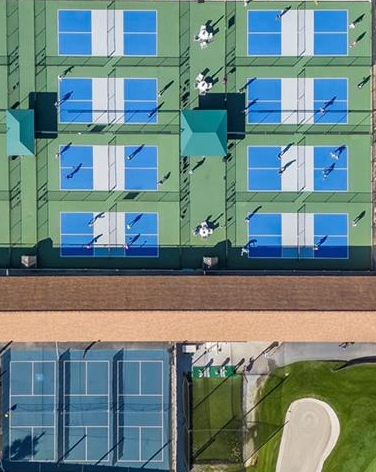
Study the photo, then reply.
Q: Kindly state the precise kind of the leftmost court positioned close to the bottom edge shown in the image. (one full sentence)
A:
It looks like the leftmost court positioned close to the bottom edge is a tennis court.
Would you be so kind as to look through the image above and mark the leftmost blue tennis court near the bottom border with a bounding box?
[6,361,58,462]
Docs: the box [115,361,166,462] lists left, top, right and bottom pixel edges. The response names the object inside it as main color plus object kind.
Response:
blue tennis court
